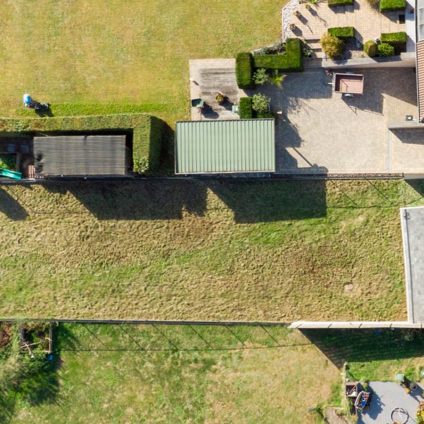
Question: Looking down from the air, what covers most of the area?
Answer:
grass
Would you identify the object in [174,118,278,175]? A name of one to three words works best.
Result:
shed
